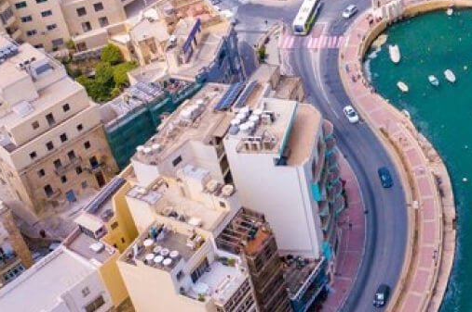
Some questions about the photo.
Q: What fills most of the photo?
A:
buildings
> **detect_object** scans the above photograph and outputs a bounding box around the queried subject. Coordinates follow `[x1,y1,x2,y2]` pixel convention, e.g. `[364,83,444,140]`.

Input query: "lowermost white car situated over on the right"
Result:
[344,105,357,121]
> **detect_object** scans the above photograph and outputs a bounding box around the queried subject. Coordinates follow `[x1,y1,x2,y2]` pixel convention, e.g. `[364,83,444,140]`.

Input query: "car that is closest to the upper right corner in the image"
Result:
[341,5,356,17]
